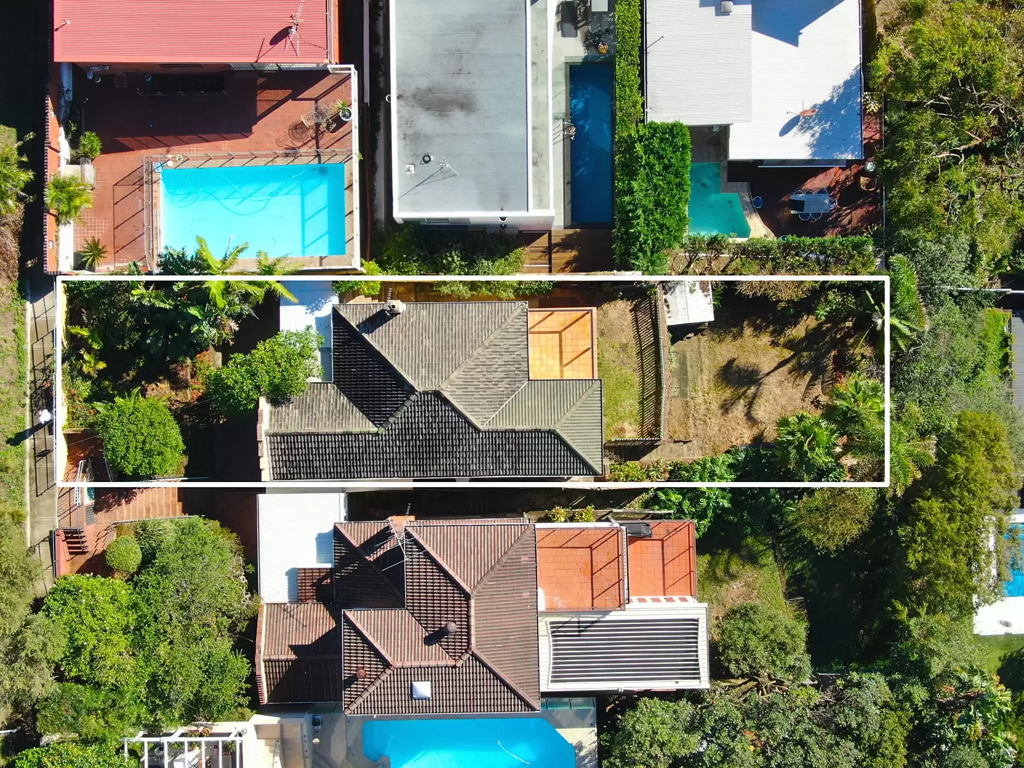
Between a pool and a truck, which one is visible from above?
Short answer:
pool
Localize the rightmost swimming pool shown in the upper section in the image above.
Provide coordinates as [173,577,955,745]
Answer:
[684,160,773,240]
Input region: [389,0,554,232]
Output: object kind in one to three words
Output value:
house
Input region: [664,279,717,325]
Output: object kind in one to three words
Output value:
shed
